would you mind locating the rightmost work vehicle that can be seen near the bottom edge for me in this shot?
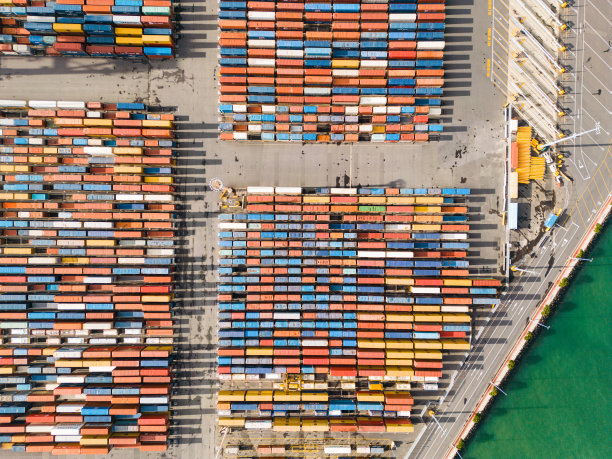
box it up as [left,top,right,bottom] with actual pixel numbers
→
[376,434,395,457]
